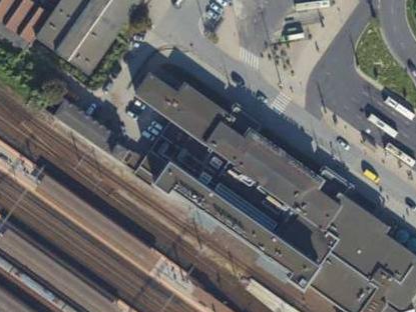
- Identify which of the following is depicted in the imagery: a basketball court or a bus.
bus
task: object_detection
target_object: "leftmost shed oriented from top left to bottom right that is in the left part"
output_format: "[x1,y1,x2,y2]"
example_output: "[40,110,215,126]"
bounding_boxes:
[56,99,112,153]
